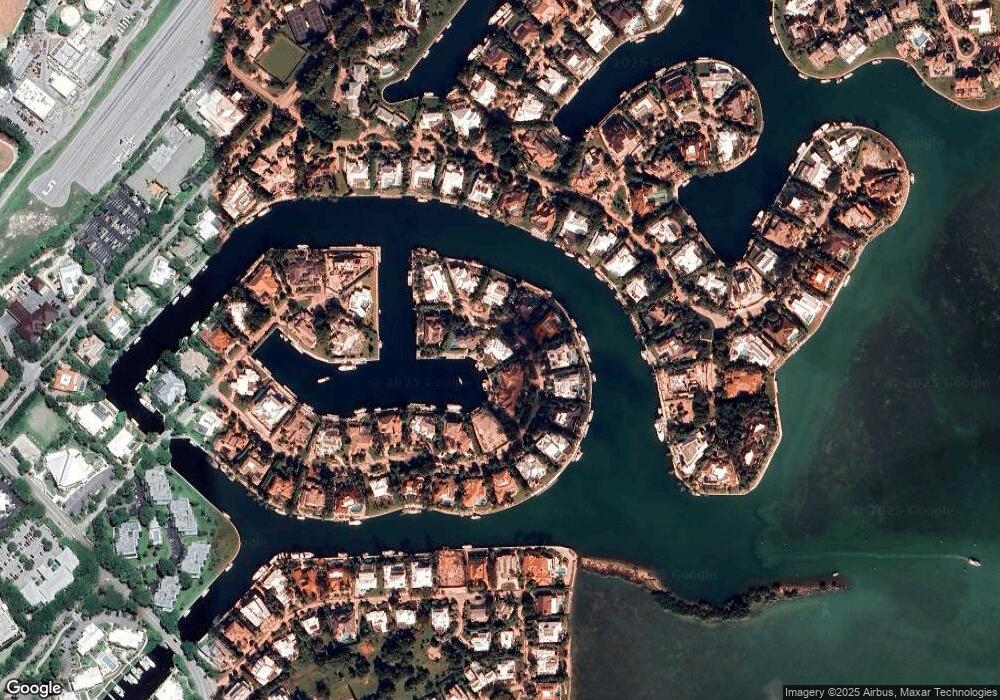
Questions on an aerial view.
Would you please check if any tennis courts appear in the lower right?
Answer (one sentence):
No, no tennis court can be made out in the lower right.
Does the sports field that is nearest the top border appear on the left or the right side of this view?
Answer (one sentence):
The sports field that is nearest the top border is on the left side of the image.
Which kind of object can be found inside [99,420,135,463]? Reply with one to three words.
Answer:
house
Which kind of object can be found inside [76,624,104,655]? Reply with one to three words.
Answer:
building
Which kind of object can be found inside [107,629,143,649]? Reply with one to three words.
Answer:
building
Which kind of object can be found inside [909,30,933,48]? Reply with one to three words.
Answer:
swimming pool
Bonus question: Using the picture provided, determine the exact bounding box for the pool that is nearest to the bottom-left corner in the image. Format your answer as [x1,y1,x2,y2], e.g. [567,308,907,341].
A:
[99,651,121,674]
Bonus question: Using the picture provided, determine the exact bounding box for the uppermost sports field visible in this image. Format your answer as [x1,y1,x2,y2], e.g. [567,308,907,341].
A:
[255,33,306,83]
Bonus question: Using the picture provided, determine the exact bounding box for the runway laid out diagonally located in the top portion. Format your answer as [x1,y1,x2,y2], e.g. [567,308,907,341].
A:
[28,0,225,206]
